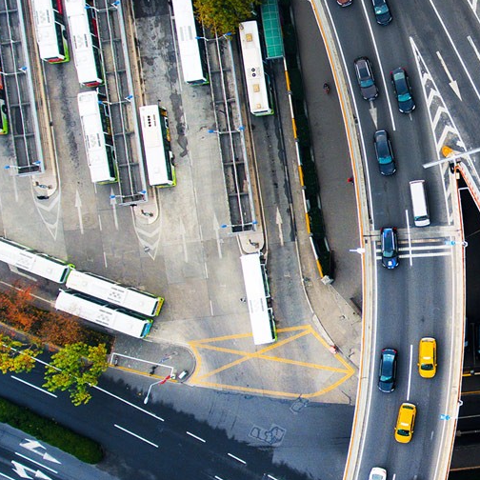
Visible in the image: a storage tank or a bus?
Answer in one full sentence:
The image shows a bus.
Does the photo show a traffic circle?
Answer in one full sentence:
No, no traffic circle can be seen from above.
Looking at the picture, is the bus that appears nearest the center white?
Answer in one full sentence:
Yes, the bus that appears nearest the center is white.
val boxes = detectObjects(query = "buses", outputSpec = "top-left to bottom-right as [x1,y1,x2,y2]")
[68,0,105,89]
[139,102,177,187]
[238,18,276,118]
[174,0,210,87]
[67,268,172,318]
[0,235,79,286]
[77,88,117,185]
[57,289,161,341]
[241,249,281,343]
[35,0,74,66]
